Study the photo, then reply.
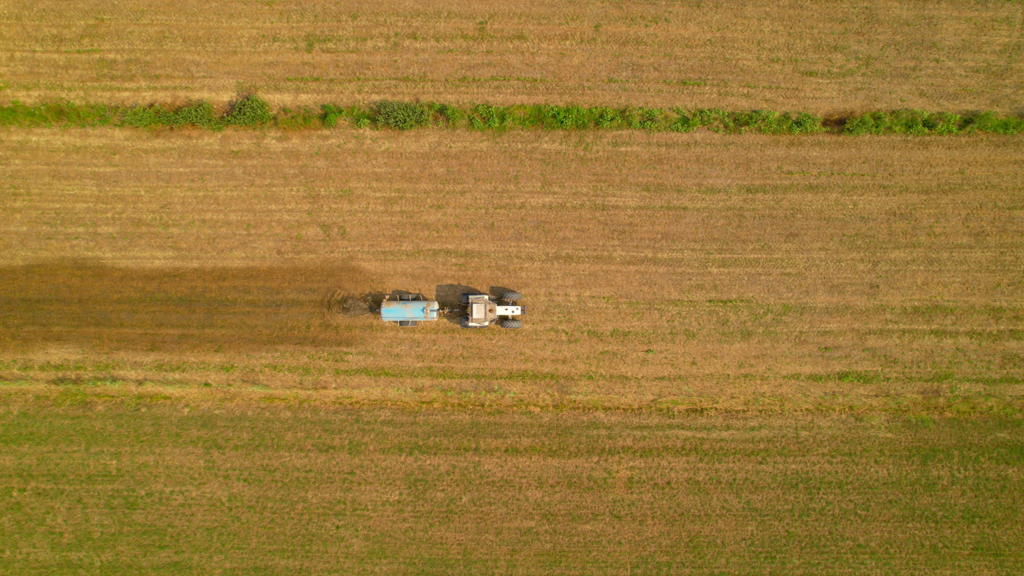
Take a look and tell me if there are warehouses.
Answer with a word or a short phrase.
No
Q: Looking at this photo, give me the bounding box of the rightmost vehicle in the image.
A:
[456,292,528,329]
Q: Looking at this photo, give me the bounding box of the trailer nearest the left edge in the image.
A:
[373,294,465,327]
